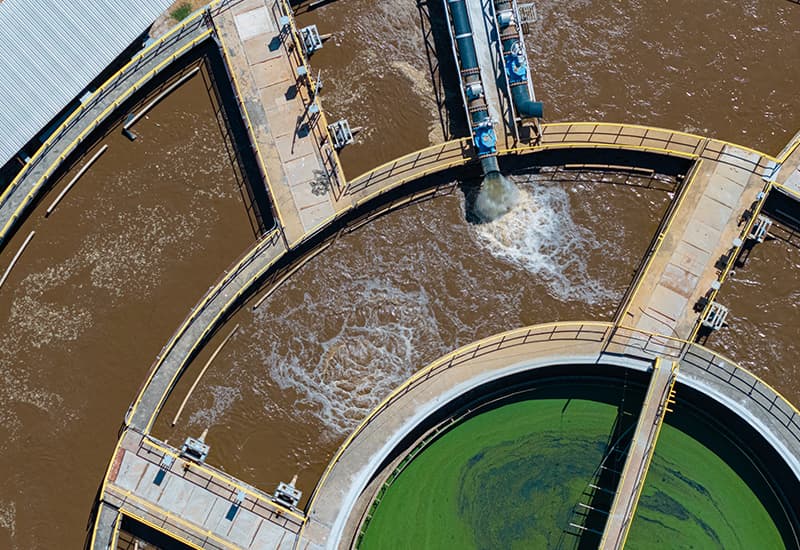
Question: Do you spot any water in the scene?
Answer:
Yes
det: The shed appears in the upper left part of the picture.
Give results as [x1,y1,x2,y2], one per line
[0,0,175,175]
